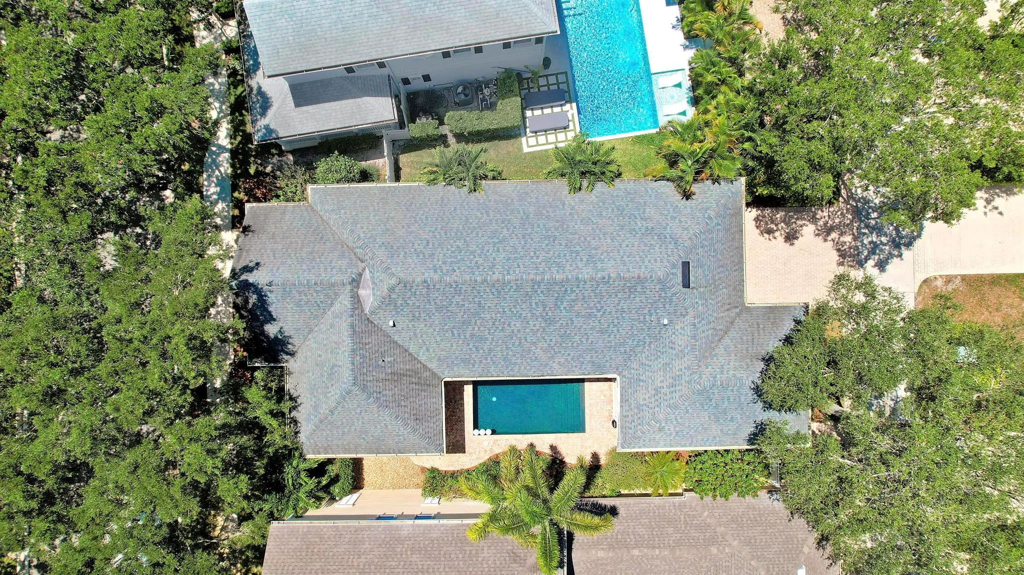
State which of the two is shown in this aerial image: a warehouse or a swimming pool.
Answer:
swimming pool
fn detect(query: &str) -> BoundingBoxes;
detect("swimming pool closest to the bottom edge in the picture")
[473,380,584,435]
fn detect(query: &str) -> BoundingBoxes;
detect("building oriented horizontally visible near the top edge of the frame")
[229,0,562,152]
